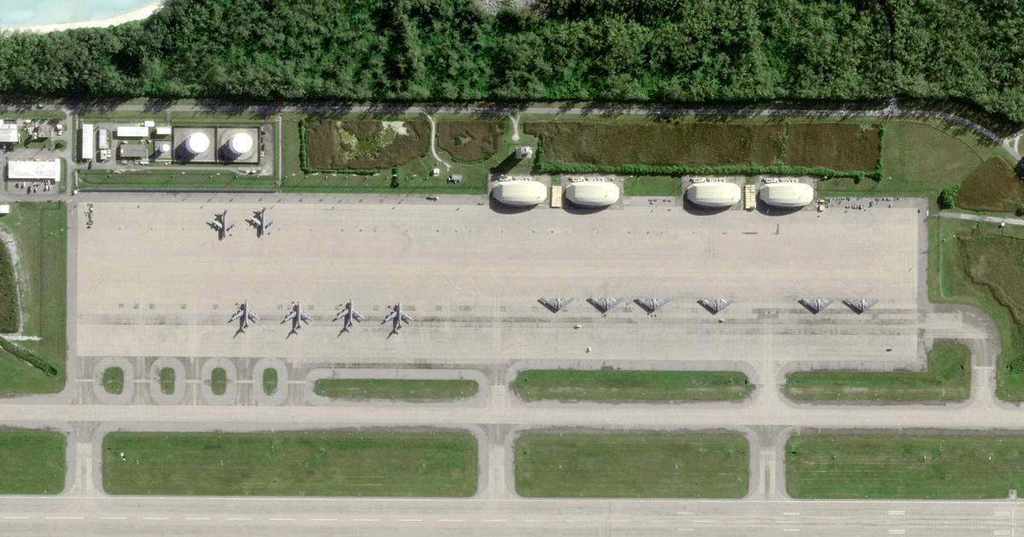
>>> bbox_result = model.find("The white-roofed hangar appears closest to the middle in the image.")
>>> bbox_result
[492,182,546,208]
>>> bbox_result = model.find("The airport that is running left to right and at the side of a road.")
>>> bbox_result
[0,174,1024,537]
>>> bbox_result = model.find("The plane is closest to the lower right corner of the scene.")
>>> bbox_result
[846,299,880,313]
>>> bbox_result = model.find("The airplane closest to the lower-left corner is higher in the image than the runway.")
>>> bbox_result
[233,300,260,326]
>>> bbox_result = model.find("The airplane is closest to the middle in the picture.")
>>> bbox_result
[542,298,575,311]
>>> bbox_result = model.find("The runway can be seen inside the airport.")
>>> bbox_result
[0,495,1024,537]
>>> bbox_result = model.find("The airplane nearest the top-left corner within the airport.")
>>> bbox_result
[213,210,239,238]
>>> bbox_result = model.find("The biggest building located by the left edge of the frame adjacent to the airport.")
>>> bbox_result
[7,161,55,178]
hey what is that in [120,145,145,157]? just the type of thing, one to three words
building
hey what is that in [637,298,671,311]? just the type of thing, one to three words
airplane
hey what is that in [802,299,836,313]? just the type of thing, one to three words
airplane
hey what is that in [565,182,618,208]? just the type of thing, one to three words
hangar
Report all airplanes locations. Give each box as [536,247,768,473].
[846,299,880,313]
[802,299,836,313]
[213,210,239,238]
[637,298,671,311]
[542,298,575,311]
[701,299,735,313]
[387,303,413,329]
[286,302,312,328]
[338,300,365,326]
[251,208,277,235]
[233,300,260,326]
[590,298,624,311]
